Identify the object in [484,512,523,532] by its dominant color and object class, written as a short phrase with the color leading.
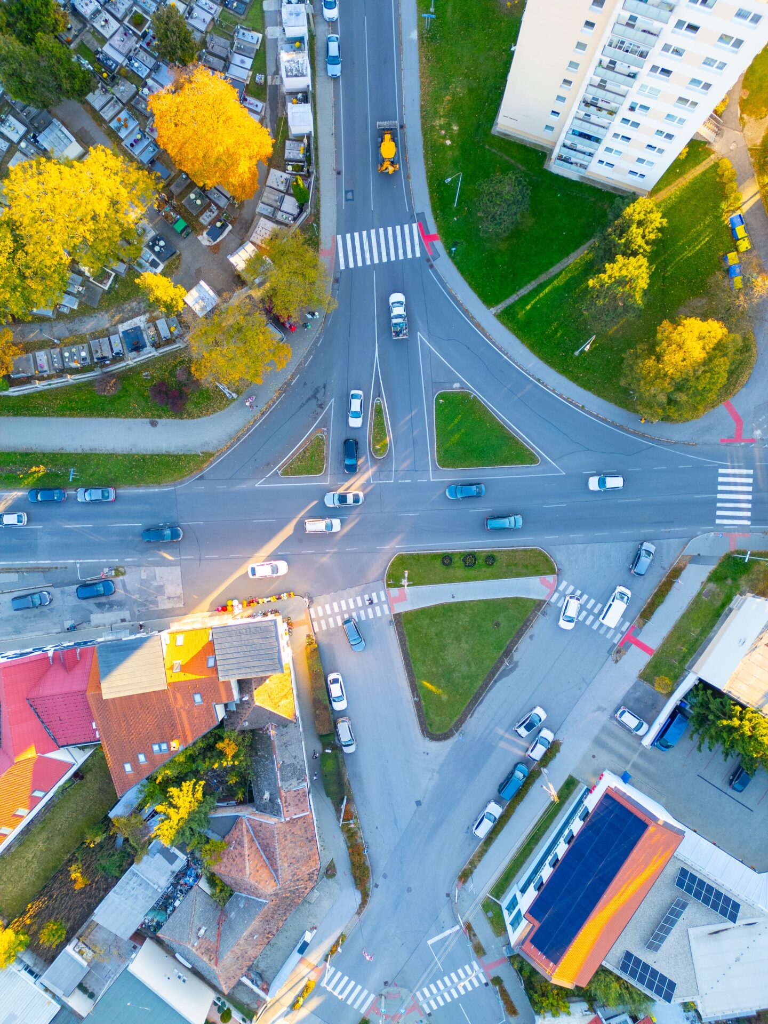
blue car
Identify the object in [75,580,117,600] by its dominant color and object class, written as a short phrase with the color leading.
blue car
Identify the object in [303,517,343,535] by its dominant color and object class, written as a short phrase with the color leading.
white car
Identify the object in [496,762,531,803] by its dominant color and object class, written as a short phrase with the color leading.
blue vehicle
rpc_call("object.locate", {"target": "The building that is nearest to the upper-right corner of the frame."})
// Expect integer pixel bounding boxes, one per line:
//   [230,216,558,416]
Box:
[488,0,768,204]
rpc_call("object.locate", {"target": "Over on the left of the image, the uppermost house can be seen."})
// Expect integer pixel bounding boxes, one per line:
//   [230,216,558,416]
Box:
[282,3,307,42]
